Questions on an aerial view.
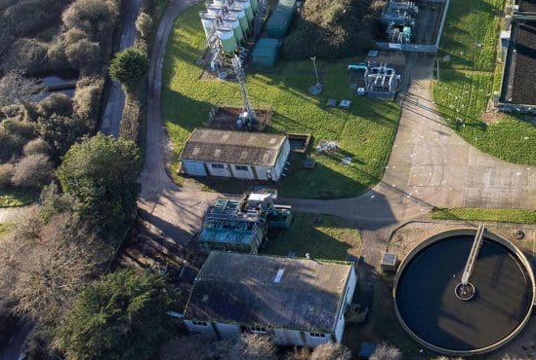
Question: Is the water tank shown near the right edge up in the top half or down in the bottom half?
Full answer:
It is in the bottom half that the water tank shown near the right edge appears.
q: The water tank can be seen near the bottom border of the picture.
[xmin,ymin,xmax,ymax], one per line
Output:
[393,223,536,360]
